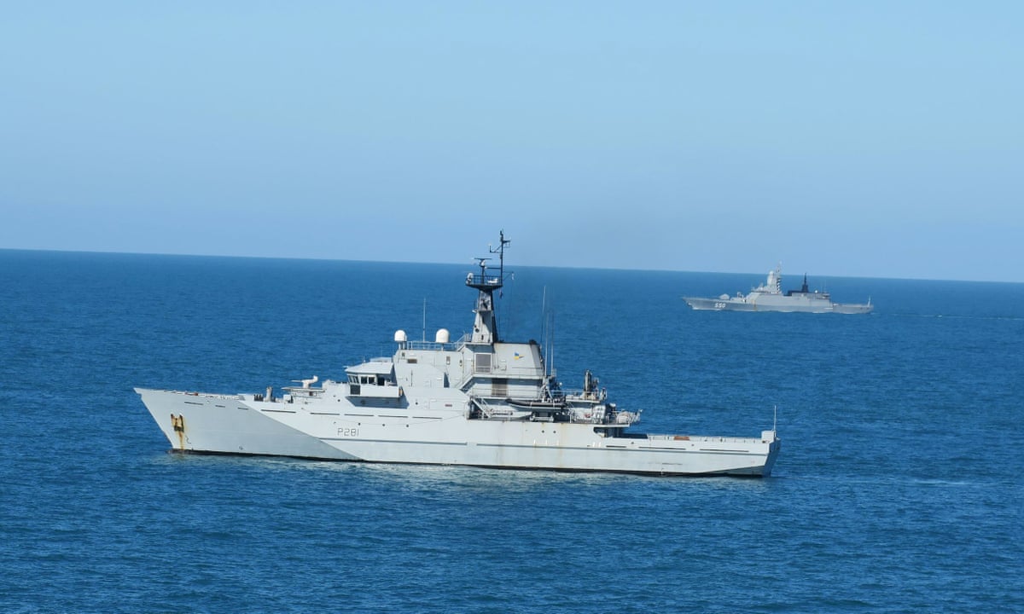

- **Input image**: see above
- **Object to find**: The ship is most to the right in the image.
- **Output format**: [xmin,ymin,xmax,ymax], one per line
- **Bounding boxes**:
[684,262,873,314]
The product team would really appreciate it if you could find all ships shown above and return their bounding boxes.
[134,231,780,476]
[684,262,873,314]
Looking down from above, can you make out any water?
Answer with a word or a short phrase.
Yes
